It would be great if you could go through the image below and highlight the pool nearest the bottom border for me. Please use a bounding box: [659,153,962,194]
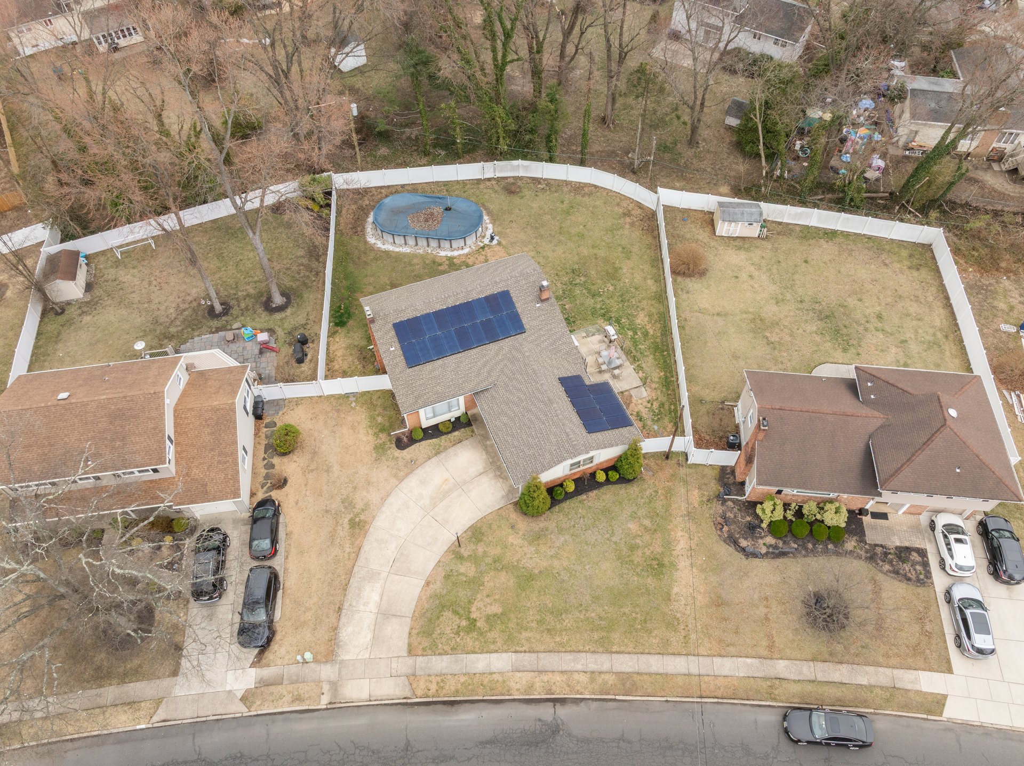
[367,195,487,249]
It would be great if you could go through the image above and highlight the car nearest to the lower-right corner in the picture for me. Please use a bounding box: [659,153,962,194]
[946,582,998,661]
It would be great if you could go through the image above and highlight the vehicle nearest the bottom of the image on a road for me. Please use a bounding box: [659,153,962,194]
[781,707,875,757]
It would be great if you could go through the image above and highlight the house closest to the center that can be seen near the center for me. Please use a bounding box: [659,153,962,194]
[359,253,646,498]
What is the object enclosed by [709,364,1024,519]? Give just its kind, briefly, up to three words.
house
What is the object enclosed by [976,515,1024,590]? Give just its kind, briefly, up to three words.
car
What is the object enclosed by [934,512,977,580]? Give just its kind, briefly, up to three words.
car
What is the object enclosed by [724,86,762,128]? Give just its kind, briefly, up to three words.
shed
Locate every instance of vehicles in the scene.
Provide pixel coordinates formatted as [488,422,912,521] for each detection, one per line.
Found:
[934,512,977,580]
[189,527,230,602]
[946,582,998,661]
[781,707,875,757]
[244,497,280,565]
[236,564,282,650]
[976,515,1024,590]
